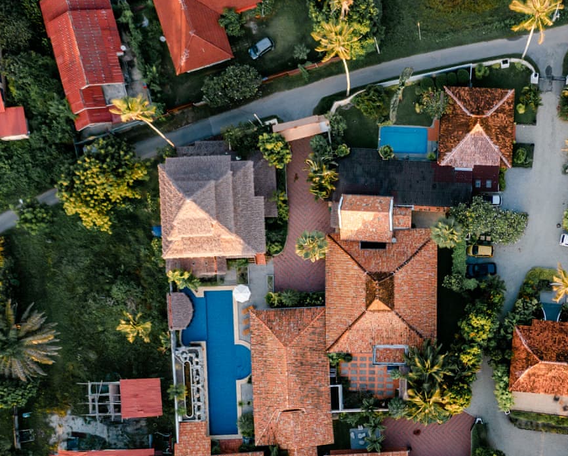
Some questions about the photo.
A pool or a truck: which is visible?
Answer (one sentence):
I can see a pool in this picture.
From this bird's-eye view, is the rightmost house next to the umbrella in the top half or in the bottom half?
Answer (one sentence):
The rightmost house next to the umbrella is in the bottom half of the image.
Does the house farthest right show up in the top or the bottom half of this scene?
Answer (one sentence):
Seen from above, the house farthest right lies in the bottom half of the view.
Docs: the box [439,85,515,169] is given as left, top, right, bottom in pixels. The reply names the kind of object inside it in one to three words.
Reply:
house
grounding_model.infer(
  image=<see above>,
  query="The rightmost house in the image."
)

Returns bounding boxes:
[510,320,568,416]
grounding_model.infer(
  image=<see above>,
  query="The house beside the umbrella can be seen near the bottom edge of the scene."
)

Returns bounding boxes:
[249,306,333,456]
